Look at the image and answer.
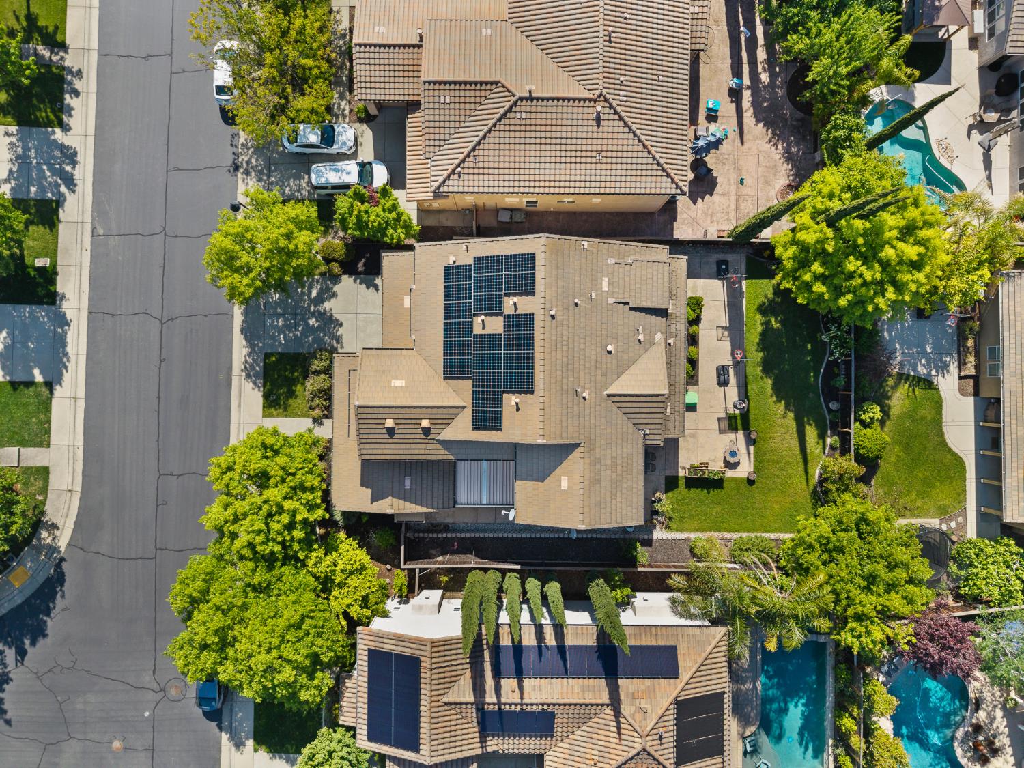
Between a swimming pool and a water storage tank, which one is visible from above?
swimming pool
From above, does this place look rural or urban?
urban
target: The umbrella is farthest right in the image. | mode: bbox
[972,126,1023,150]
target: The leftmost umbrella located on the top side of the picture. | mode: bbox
[690,133,728,153]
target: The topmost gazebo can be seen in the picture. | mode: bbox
[905,0,972,44]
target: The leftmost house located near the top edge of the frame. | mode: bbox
[350,0,714,211]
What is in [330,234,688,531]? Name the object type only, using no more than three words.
house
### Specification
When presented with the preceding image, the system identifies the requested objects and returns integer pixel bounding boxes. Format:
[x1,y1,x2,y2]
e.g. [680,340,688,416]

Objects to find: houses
[350,0,714,211]
[330,234,688,531]
[337,590,730,768]
[970,0,1024,237]
[979,268,1024,526]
